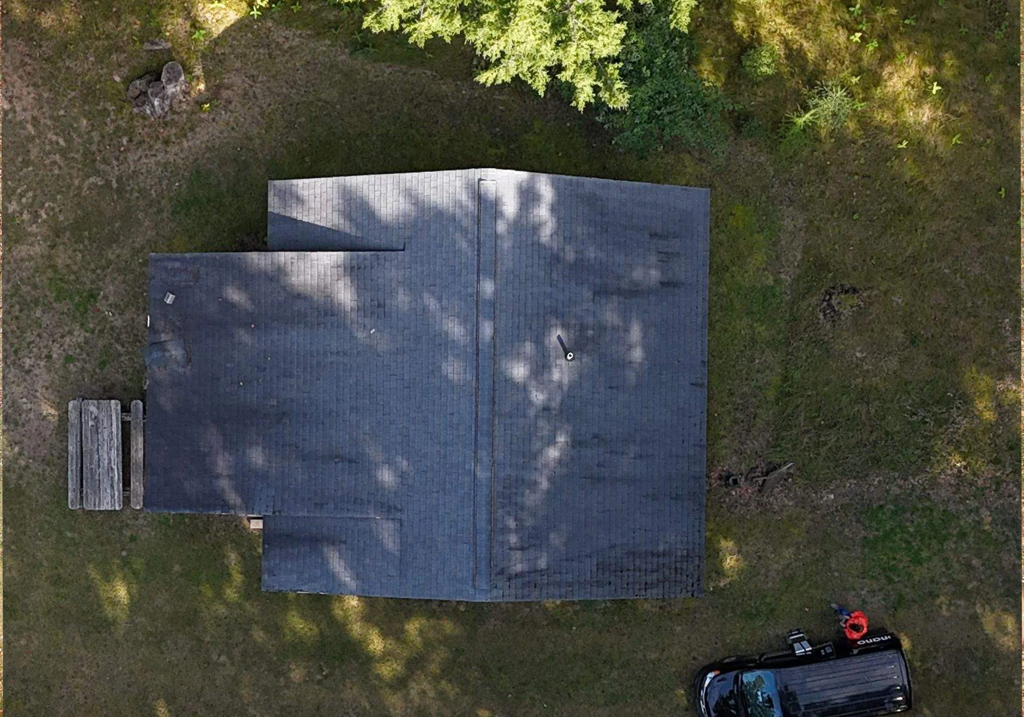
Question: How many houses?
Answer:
one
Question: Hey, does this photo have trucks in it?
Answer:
No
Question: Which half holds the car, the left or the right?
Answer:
right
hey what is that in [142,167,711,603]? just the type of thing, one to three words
house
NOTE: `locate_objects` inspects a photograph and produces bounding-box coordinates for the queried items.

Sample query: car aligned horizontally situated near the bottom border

[691,626,912,717]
